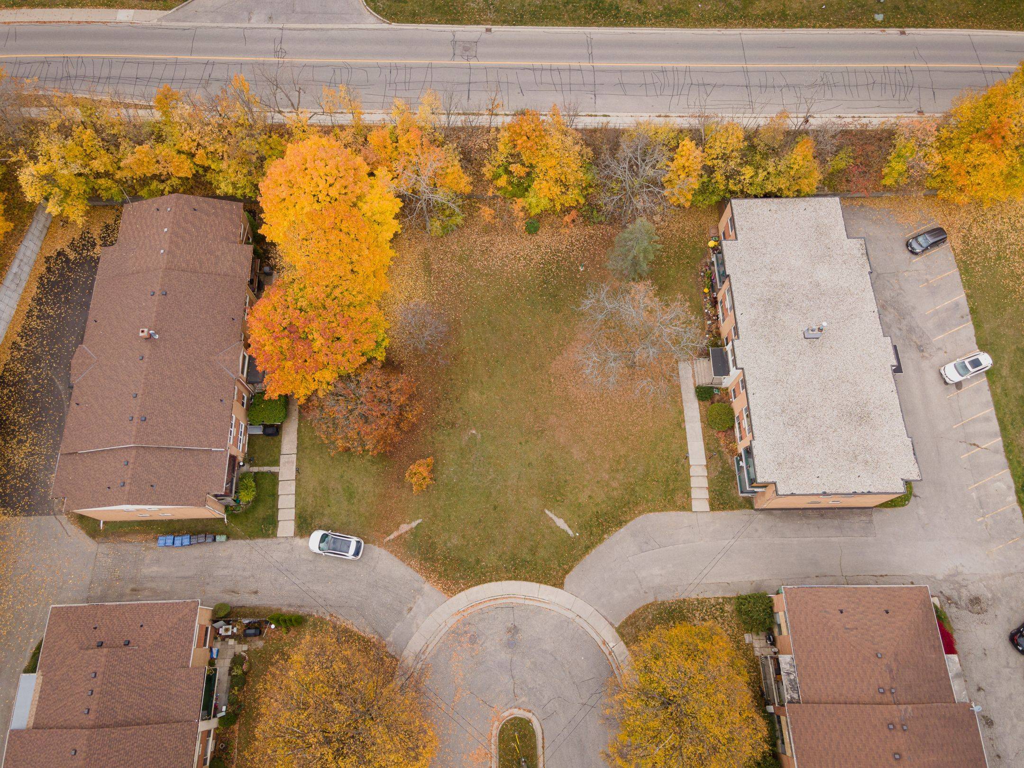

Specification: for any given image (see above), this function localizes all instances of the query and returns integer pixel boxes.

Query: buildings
[53,193,285,535]
[695,198,922,508]
[748,585,986,768]
[3,601,221,768]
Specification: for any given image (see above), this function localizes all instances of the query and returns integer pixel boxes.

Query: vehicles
[308,528,365,560]
[904,221,953,256]
[1006,628,1024,656]
[940,349,997,384]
